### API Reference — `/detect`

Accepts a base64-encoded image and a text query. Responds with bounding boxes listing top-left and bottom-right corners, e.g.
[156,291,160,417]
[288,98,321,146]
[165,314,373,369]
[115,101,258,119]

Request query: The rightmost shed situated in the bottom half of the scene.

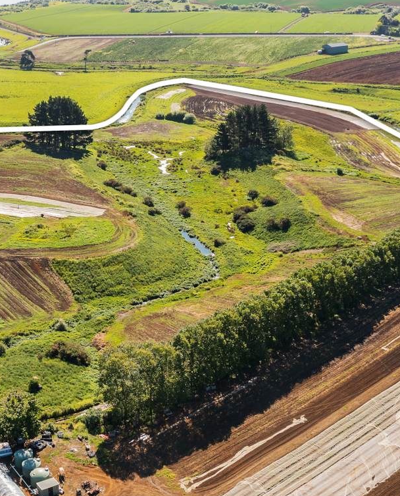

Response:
[36,475,59,496]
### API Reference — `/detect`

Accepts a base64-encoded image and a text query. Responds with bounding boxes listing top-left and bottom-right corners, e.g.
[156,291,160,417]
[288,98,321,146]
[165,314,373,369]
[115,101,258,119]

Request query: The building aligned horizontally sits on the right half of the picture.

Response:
[316,41,353,55]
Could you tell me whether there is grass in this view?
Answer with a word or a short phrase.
Yes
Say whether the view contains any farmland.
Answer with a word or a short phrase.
Yes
